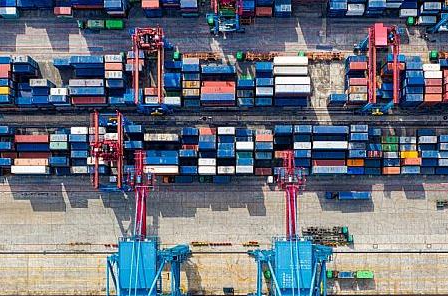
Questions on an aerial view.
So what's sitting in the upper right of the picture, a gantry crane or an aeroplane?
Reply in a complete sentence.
The feature located in the upper right of the picture is a gantry crane.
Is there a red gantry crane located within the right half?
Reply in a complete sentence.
Yes, there is a red gantry crane within the right half.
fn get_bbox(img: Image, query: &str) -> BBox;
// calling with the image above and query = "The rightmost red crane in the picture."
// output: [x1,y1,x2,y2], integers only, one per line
[351,13,400,117]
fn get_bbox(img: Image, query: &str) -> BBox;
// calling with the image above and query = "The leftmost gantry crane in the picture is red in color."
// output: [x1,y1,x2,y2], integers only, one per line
[91,105,139,189]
